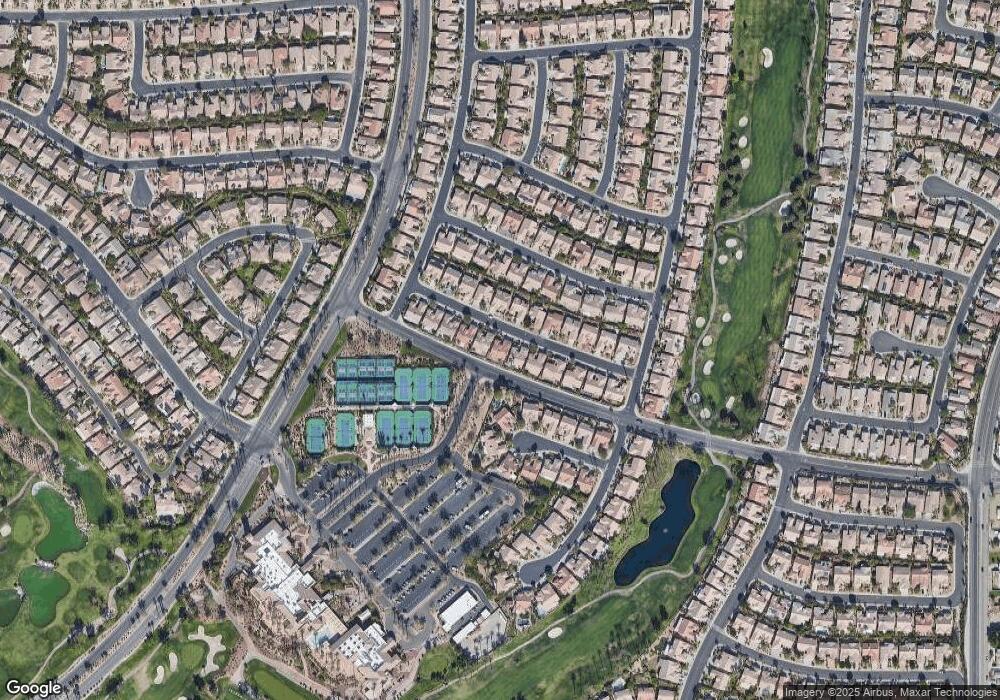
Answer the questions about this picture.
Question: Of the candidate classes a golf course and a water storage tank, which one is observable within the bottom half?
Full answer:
What appears within the bottom half is a golf course.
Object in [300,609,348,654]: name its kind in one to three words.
swimming pool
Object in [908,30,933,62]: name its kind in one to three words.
house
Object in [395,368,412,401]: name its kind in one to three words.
tennis court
